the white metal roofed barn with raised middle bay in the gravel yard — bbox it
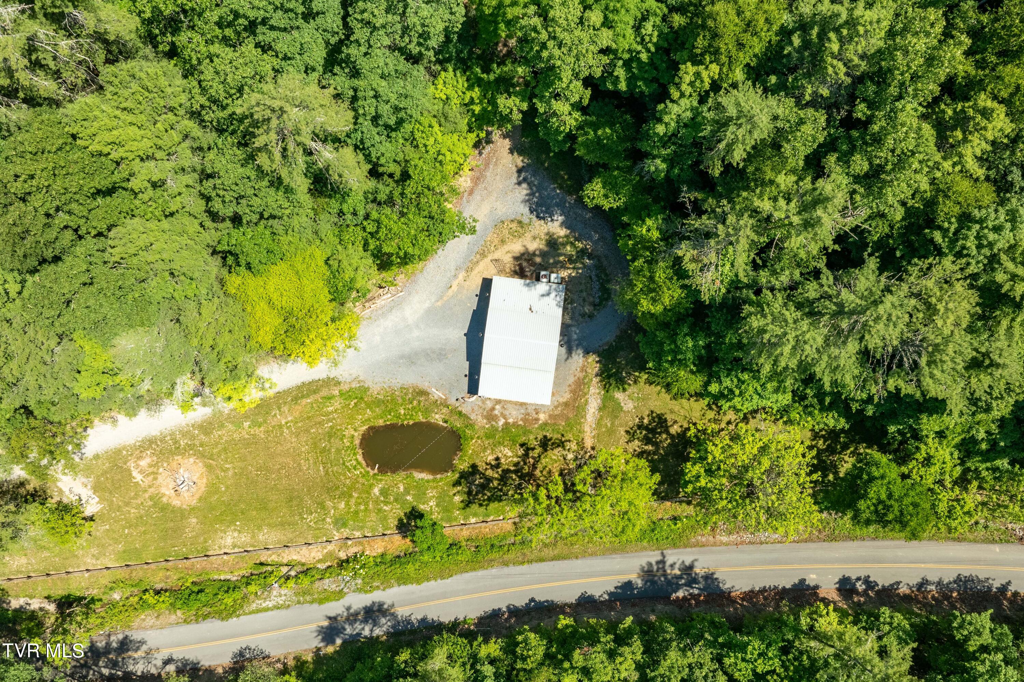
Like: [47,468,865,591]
[475,276,565,404]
